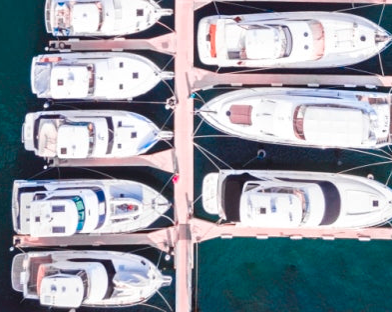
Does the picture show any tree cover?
No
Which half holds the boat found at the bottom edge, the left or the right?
left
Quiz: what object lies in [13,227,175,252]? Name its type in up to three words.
pier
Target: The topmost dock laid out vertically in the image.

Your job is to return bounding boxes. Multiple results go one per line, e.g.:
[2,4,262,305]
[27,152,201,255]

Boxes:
[174,2,194,269]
